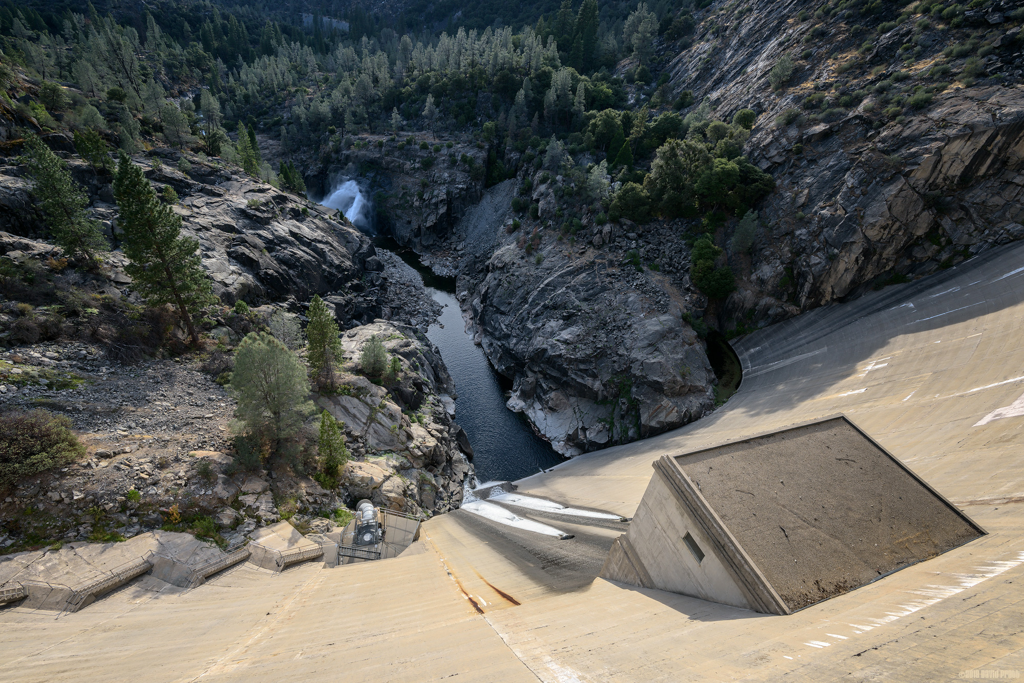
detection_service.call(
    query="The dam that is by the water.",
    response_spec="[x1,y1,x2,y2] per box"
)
[0,236,1024,683]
